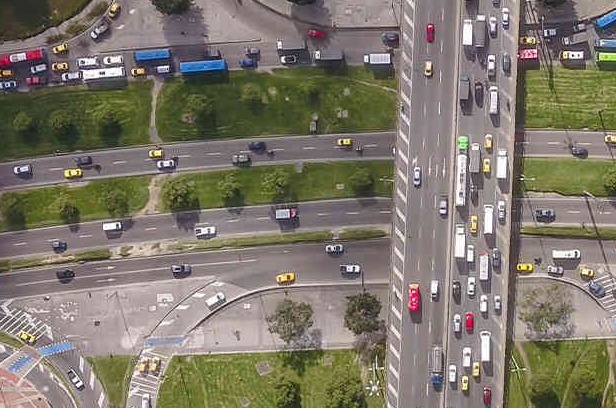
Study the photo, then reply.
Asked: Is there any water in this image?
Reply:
No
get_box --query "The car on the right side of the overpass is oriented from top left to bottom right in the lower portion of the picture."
[588,279,604,296]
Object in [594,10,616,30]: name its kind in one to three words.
bus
